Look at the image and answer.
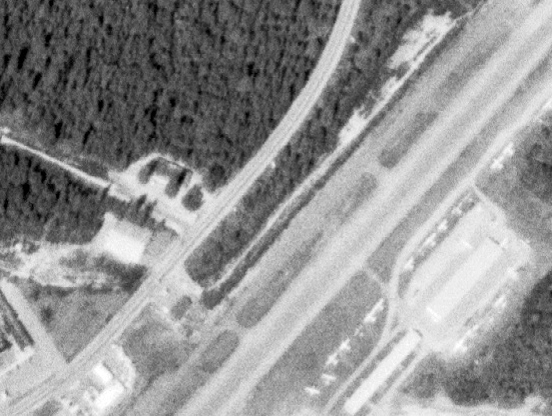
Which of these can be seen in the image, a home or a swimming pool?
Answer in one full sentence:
Visible in the photo is a home.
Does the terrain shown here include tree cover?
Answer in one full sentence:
Yes, some tree cover is visible.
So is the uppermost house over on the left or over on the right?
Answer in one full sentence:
The uppermost house appears in the left half of the scene.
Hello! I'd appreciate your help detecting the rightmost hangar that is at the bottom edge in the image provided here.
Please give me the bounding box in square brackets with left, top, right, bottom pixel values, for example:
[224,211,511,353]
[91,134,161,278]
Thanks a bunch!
[343,328,423,416]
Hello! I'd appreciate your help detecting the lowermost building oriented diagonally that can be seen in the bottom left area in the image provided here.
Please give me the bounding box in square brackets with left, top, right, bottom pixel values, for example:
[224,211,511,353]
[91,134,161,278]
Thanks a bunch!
[97,384,124,410]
